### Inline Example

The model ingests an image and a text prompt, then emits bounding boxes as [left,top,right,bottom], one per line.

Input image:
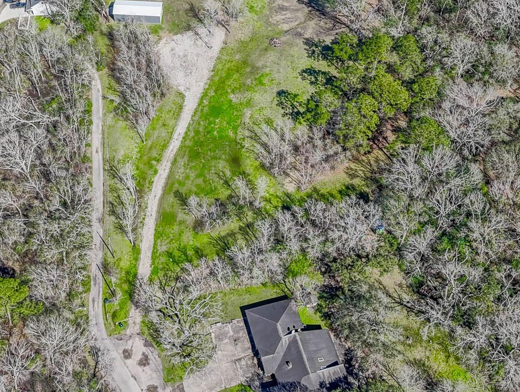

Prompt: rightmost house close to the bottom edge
[245,298,358,392]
